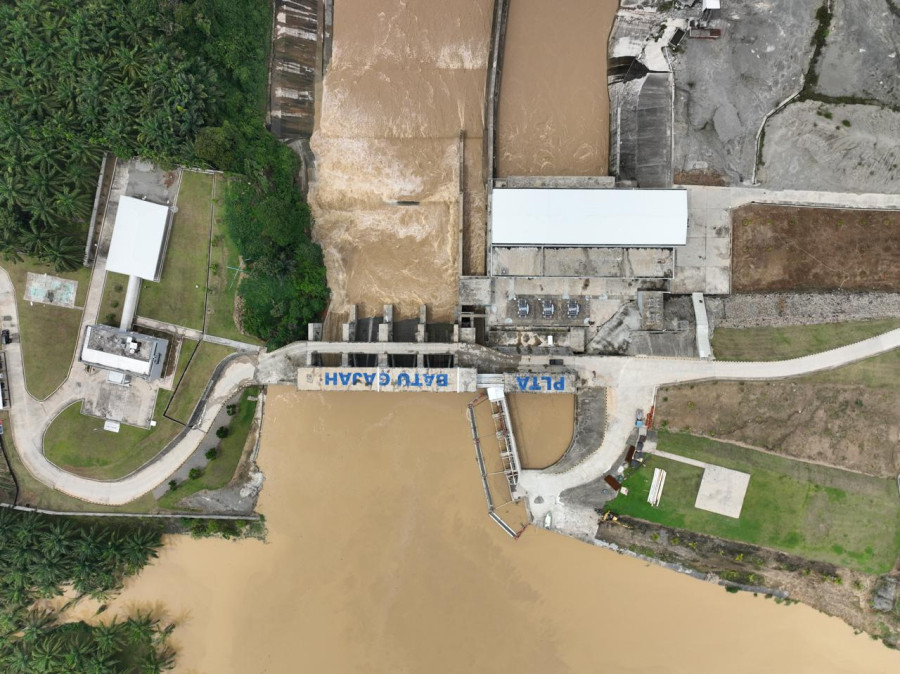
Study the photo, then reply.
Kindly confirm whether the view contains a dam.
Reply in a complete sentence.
Yes, there is a dam in the image.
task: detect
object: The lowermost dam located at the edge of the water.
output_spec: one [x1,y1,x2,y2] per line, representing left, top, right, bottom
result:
[308,305,463,367]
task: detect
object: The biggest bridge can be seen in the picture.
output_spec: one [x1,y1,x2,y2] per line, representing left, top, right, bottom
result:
[306,342,459,354]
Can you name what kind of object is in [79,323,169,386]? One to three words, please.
building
